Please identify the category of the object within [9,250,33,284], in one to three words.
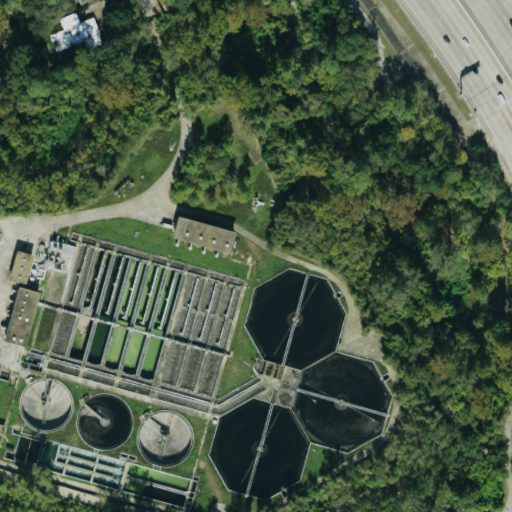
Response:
building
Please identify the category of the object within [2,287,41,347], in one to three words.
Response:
building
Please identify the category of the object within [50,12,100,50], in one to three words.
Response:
house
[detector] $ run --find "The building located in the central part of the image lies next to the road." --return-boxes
[174,217,238,258]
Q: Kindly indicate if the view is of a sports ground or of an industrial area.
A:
industrial area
